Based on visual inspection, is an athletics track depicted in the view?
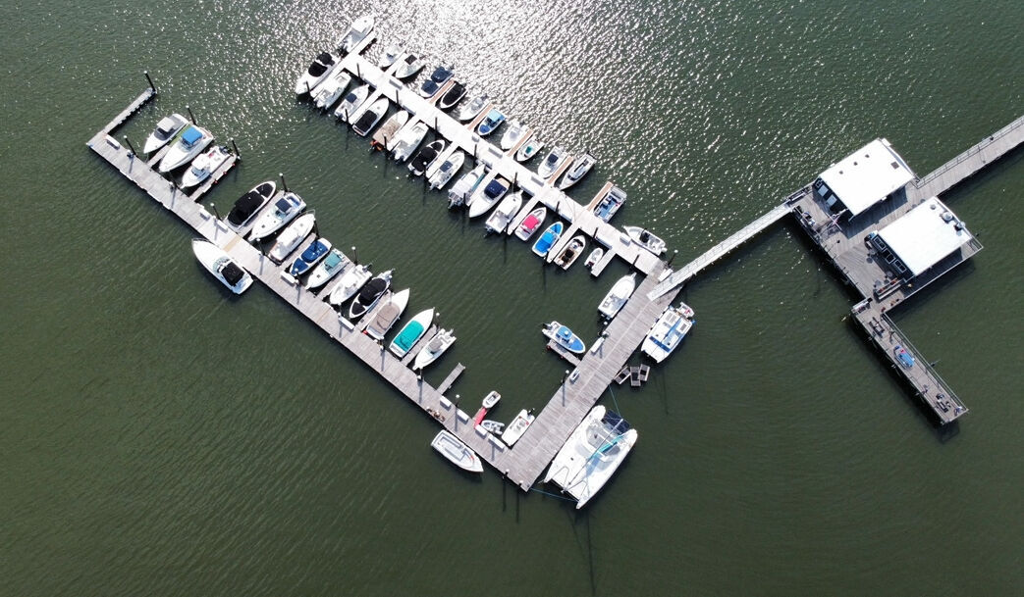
No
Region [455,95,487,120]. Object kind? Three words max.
boat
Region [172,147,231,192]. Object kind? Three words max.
boat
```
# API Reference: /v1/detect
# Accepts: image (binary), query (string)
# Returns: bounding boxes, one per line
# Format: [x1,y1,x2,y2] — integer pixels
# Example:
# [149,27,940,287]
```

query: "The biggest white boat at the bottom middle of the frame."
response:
[542,406,636,512]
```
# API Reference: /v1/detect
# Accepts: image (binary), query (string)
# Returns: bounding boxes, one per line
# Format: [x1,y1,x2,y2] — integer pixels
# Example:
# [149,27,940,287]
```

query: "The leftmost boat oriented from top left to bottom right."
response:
[191,238,259,299]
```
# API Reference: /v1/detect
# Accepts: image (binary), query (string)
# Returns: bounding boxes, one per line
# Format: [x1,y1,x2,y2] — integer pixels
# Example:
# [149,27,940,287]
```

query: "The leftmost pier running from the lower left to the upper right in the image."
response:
[497,258,684,493]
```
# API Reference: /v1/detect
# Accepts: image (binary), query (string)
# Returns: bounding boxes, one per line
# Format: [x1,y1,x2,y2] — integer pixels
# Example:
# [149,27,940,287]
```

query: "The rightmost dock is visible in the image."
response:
[787,119,1024,431]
